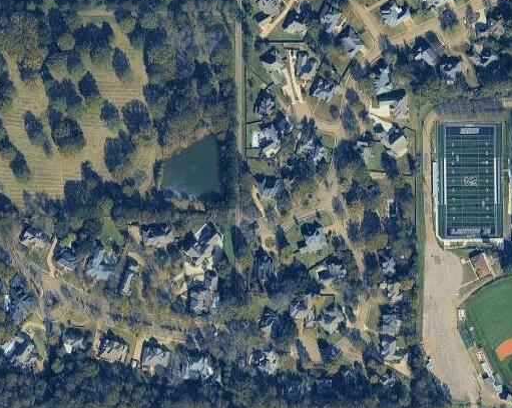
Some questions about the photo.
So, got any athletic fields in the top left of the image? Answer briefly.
No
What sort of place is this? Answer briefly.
residential area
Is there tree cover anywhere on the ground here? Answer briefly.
Yes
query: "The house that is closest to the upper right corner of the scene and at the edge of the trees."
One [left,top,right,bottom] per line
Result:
[479,14,510,39]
